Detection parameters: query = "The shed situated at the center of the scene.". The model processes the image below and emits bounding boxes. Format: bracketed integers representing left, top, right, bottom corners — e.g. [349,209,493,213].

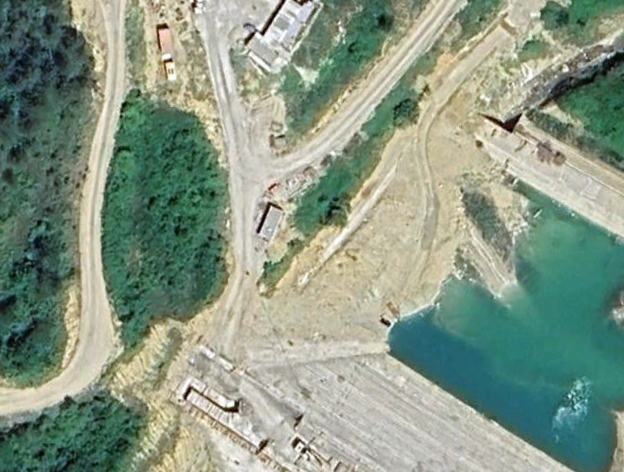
[259,205,280,238]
